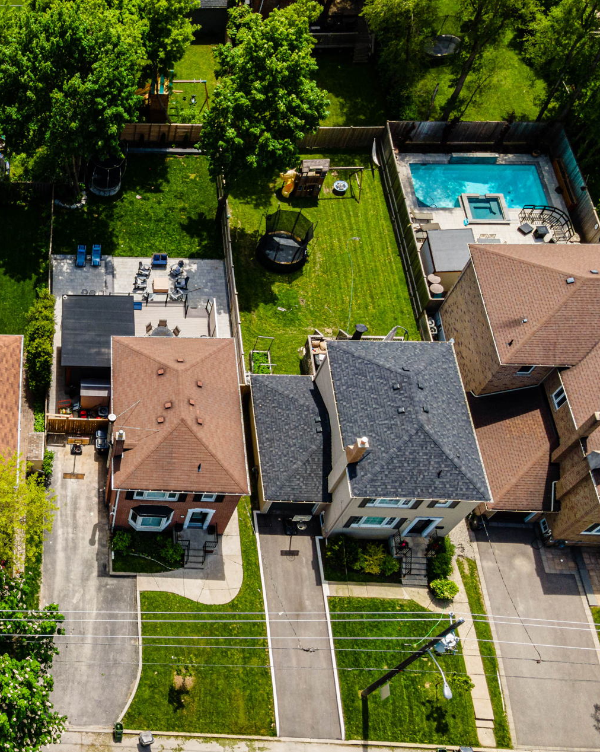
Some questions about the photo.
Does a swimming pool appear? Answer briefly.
Yes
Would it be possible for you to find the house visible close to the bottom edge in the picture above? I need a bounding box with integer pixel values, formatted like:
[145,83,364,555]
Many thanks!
[126,498,275,737]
